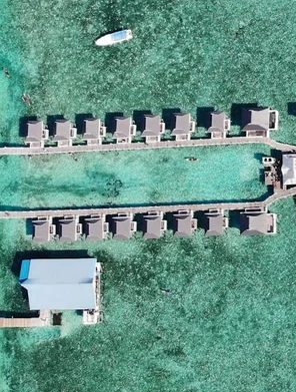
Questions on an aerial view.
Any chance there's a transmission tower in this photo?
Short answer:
No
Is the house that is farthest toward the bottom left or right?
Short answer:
left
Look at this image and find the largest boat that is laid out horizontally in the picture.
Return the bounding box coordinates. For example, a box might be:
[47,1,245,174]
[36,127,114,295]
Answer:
[94,29,135,44]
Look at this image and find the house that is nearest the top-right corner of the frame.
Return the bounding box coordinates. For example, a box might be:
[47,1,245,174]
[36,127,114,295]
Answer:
[241,106,278,137]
